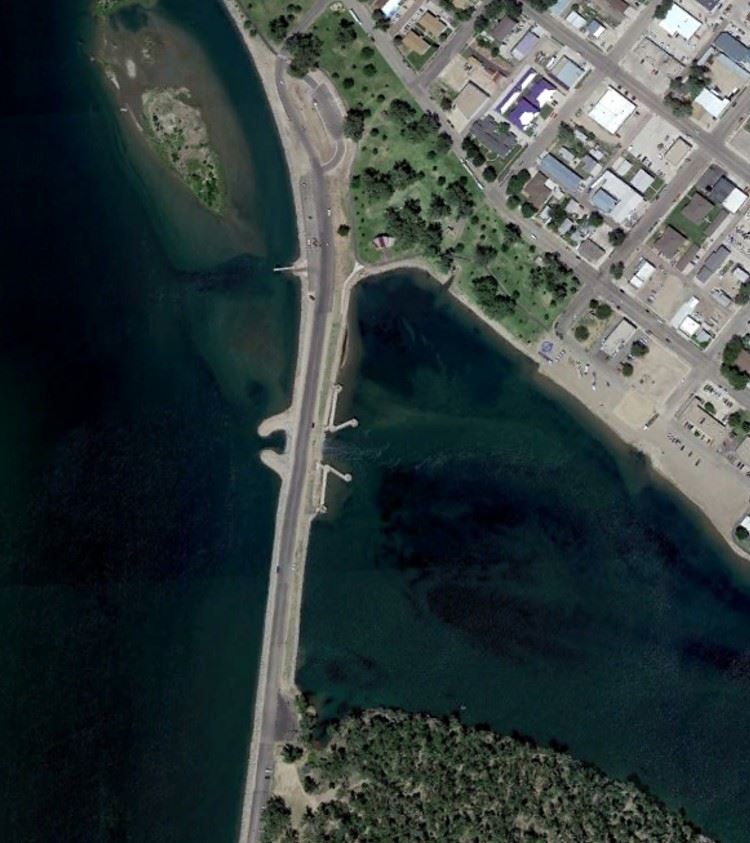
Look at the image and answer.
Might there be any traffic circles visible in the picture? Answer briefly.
No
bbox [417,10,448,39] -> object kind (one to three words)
house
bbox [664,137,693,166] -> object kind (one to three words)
building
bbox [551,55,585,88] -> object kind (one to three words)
shed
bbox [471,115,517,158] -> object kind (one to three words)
building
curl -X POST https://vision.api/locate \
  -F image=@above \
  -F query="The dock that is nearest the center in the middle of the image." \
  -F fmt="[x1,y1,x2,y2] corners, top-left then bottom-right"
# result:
[324,384,357,432]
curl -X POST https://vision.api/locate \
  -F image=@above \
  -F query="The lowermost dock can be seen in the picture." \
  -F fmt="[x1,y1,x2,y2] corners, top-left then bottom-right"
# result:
[315,463,352,512]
